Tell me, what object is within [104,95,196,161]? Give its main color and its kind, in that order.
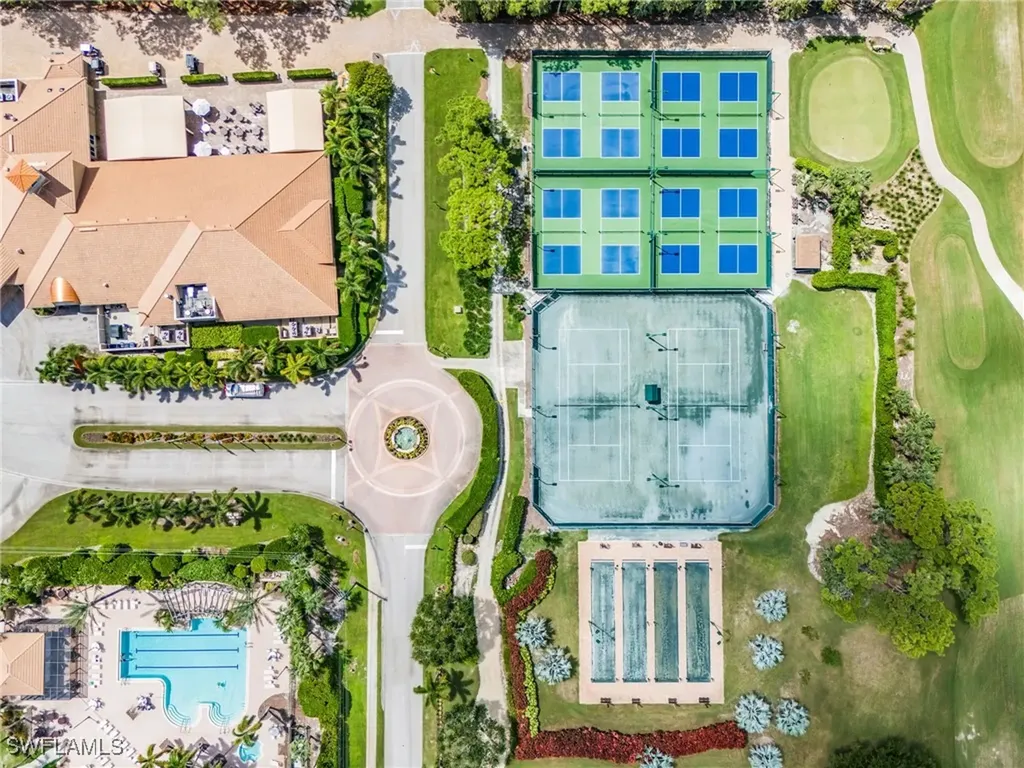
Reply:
white tent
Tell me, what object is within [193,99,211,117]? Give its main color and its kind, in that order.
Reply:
white umbrella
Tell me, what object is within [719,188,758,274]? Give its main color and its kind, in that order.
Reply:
blue sports court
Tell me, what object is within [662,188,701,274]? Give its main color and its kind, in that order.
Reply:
blue sports court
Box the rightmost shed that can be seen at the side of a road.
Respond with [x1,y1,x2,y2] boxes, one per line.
[790,235,821,269]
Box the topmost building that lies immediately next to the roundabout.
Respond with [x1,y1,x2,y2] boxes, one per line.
[0,54,340,327]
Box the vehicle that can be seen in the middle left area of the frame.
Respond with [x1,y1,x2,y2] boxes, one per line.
[227,382,267,398]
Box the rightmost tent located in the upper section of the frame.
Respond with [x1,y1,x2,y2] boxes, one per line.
[266,88,330,157]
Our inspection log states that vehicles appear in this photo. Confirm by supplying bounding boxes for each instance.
[80,43,100,57]
[148,61,163,78]
[227,382,267,398]
[185,55,199,74]
[90,58,105,77]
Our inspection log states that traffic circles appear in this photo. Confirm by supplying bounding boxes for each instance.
[347,345,484,532]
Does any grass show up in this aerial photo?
Yes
